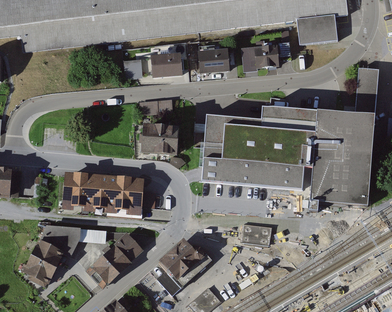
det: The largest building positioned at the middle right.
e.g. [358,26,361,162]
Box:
[200,106,376,214]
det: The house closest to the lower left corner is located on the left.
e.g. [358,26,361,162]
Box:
[26,240,64,288]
